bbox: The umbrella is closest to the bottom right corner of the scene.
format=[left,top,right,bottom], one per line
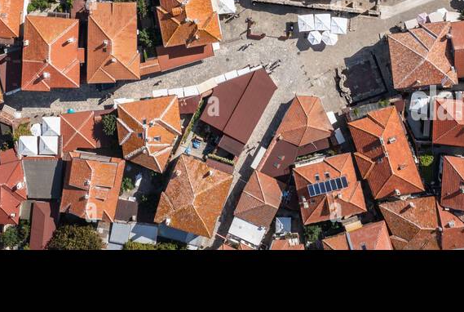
[276,216,292,232]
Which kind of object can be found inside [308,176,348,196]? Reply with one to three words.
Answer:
solar panel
